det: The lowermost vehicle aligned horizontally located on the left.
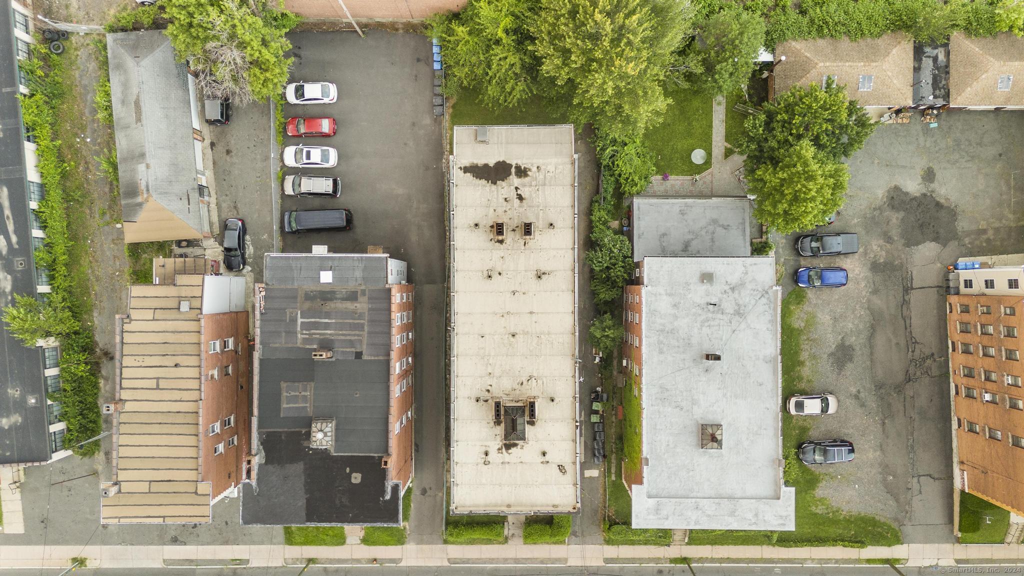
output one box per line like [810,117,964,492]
[283,207,352,234]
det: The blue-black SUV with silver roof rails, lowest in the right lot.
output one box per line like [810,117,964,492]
[798,438,857,467]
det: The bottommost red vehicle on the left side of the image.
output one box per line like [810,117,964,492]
[286,114,336,139]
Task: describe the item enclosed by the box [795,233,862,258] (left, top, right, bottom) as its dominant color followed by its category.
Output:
gray truck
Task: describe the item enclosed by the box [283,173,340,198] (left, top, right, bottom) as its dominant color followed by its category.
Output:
white car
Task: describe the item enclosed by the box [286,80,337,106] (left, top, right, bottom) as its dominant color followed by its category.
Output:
white car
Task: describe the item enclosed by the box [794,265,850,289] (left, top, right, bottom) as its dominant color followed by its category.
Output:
blue car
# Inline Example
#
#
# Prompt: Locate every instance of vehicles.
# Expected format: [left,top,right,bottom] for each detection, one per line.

[798,438,857,467]
[794,265,850,289]
[204,82,230,124]
[283,143,337,168]
[795,233,862,258]
[283,207,352,234]
[283,173,340,198]
[286,114,336,139]
[221,218,249,271]
[286,80,337,106]
[787,392,839,417]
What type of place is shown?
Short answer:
industrial area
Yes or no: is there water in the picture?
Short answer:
No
